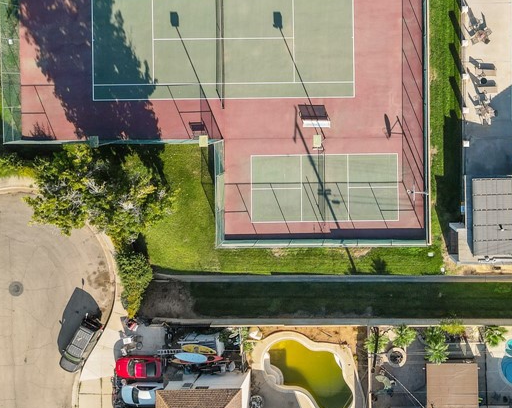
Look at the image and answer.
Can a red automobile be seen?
Yes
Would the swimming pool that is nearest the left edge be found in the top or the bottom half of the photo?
bottom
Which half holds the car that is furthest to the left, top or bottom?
bottom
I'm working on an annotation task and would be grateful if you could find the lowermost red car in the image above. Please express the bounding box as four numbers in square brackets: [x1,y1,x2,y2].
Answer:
[115,355,165,382]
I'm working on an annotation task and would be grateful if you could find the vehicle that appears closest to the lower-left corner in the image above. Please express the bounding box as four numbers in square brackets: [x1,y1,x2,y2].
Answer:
[65,308,106,371]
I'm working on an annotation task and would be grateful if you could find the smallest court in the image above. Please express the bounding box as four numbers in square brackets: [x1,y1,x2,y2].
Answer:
[250,151,399,228]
